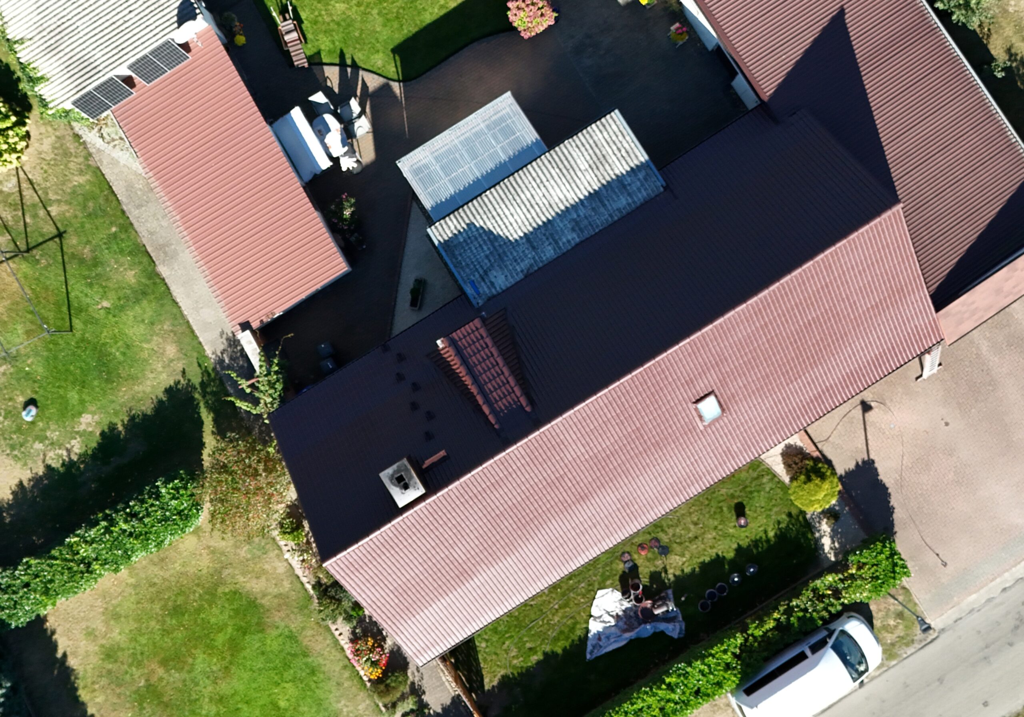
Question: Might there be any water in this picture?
No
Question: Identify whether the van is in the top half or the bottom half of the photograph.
bottom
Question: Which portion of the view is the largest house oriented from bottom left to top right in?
center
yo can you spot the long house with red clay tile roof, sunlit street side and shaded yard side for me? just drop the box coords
[265,97,944,669]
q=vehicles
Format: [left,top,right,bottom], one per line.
[734,620,885,717]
